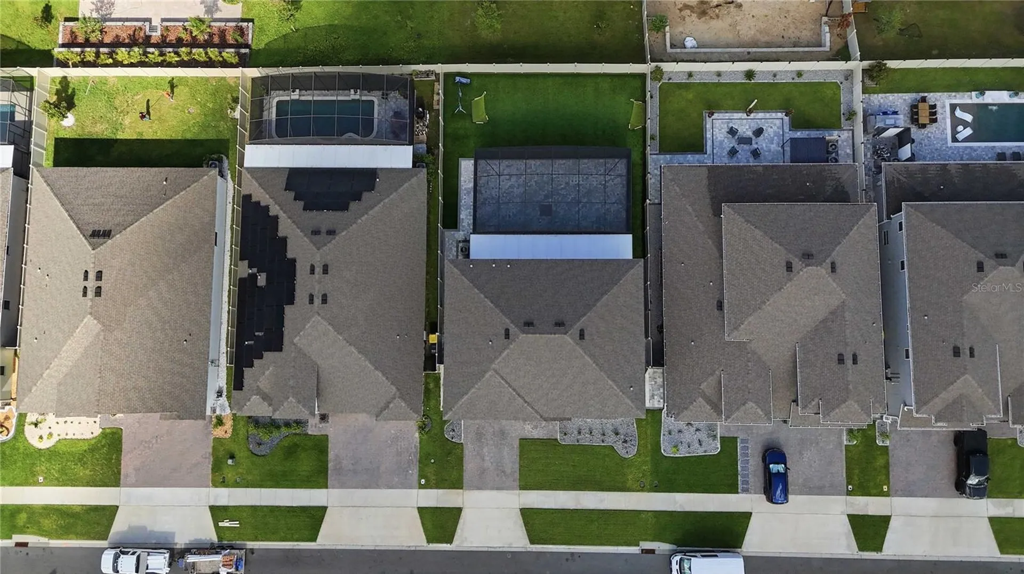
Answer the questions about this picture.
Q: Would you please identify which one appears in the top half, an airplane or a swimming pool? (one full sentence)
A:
Visible in the top half is a swimming pool.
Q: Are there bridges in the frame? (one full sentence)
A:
No, I find no bridge anywhere in the image.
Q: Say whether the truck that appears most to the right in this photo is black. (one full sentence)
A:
Yes, the truck that appears most to the right is black.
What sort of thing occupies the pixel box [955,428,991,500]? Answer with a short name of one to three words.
truck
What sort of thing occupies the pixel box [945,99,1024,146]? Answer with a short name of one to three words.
swimming pool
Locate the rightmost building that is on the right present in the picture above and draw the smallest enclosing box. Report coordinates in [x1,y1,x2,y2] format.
[874,161,1024,431]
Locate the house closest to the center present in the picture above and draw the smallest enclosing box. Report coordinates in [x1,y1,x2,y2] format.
[443,234,646,422]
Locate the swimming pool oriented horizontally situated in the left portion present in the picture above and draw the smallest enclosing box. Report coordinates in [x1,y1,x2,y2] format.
[273,96,378,140]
